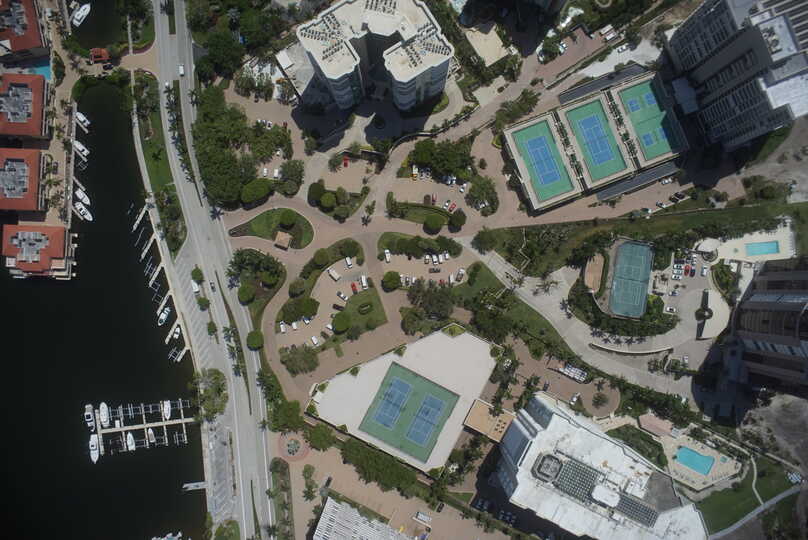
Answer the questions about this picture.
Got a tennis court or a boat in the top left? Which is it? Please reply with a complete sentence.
What appears in the top left is a boat.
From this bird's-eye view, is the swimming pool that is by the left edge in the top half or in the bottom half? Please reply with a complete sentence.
It is in the top half that the swimming pool that is by the left edge appears.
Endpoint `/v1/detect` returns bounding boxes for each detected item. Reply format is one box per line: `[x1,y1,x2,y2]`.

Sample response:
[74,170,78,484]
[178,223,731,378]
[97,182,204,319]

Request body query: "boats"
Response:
[128,433,136,452]
[164,399,171,419]
[77,114,92,127]
[73,3,91,28]
[99,403,109,429]
[159,306,171,324]
[149,428,155,443]
[85,403,95,429]
[75,201,93,219]
[75,187,91,204]
[153,533,182,540]
[89,433,99,463]
[76,141,91,155]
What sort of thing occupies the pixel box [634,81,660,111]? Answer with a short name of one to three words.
sports court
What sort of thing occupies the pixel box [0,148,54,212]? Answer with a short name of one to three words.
building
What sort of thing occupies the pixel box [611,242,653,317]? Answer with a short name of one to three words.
tennis court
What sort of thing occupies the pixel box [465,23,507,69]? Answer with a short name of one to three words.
building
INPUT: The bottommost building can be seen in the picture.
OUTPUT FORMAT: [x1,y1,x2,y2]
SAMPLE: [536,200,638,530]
[313,493,423,540]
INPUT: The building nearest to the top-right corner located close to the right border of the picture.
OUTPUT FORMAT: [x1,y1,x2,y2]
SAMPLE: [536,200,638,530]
[667,0,808,148]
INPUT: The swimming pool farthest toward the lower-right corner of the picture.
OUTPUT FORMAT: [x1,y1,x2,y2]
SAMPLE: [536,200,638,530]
[608,418,741,488]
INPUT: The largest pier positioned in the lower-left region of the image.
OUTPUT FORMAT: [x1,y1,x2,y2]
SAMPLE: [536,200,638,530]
[94,398,197,456]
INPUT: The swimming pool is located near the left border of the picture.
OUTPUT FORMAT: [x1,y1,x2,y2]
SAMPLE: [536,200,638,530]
[0,60,53,81]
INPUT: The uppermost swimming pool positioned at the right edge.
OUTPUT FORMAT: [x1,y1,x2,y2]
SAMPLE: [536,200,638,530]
[705,214,796,264]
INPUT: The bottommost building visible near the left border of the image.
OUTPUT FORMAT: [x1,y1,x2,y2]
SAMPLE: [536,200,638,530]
[2,223,77,279]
